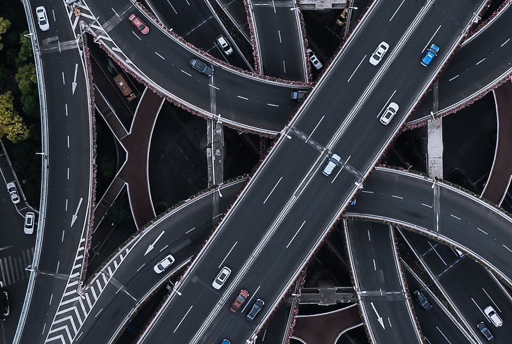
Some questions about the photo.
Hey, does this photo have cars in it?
Yes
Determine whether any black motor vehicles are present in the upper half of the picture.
Yes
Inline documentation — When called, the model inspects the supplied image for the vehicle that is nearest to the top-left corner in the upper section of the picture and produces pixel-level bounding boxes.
[36,3,50,31]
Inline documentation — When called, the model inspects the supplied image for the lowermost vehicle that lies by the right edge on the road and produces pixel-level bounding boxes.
[476,319,496,344]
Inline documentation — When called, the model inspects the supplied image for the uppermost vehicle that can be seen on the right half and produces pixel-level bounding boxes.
[335,10,347,27]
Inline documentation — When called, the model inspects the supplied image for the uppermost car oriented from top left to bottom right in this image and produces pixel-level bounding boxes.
[128,10,151,35]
